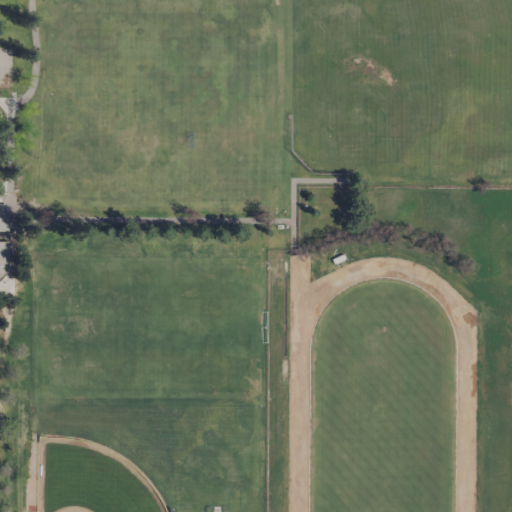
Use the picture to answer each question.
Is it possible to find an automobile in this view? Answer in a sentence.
No, there appears to be no automobile in this shot.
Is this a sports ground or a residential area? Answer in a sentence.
It's a sports ground.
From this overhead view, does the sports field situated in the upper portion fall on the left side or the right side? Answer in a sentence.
The sports field situated in the upper portion is on the left side of the image.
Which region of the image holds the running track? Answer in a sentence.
The running track is in the bottom right part of the image.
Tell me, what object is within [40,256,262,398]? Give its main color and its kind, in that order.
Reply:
green sports field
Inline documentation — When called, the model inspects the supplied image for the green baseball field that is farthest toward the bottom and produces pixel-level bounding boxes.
[38,436,166,512]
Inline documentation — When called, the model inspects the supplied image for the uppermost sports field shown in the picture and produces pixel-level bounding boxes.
[44,0,276,206]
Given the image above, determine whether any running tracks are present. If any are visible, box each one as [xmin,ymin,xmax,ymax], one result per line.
[289,255,478,512]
